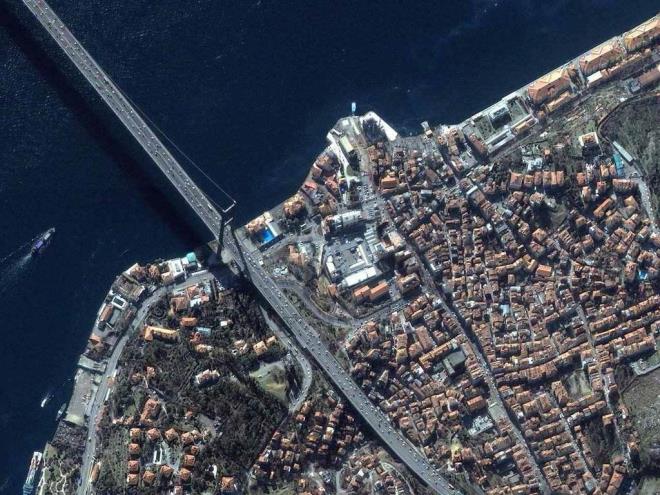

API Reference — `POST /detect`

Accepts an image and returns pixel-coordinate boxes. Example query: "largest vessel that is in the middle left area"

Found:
[32,229,54,252]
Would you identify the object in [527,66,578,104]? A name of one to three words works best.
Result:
building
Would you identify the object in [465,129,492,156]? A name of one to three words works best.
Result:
house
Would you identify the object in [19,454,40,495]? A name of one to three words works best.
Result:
ship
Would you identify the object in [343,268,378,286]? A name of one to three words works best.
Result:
building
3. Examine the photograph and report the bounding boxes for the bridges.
[23,0,468,495]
